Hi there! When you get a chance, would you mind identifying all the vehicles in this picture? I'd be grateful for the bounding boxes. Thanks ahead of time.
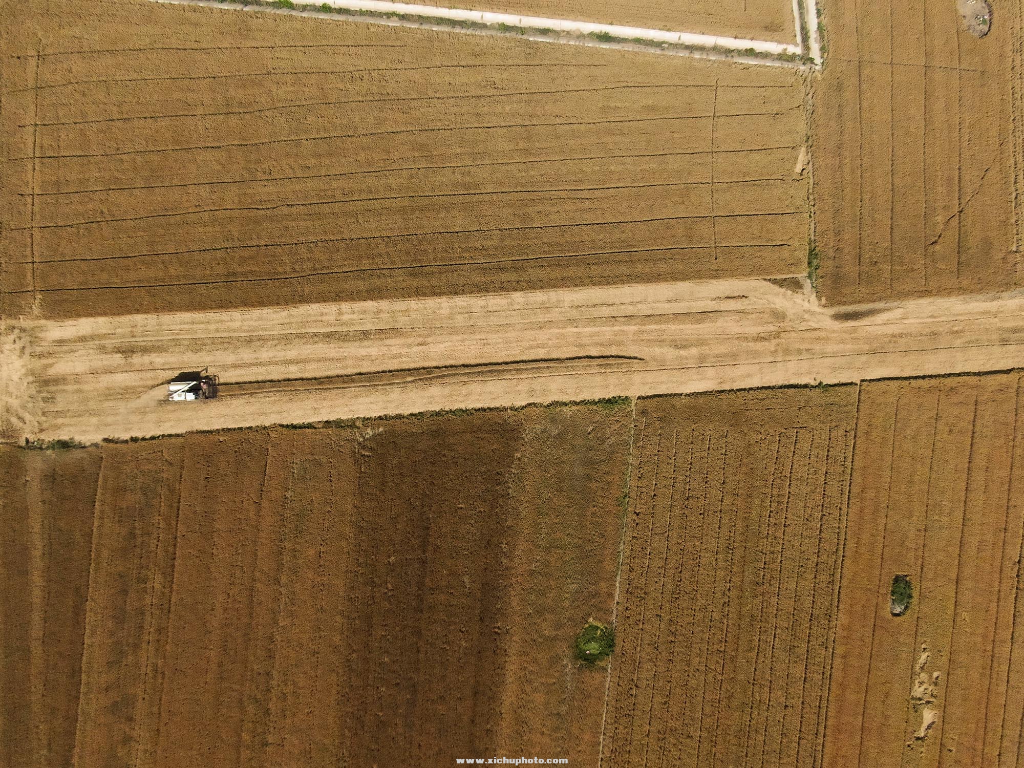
[169,378,219,403]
